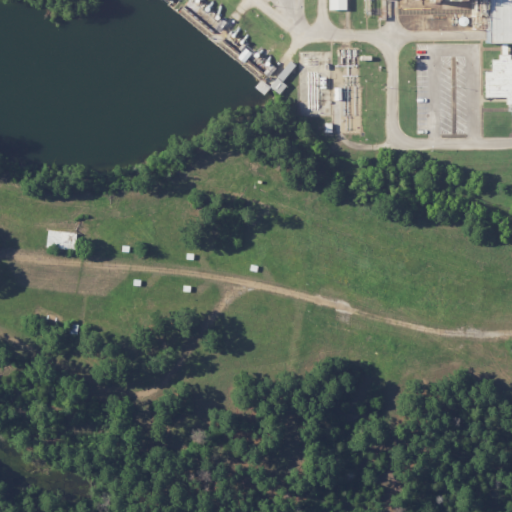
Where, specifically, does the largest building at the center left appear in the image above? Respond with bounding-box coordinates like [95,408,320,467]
[46,230,76,250]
